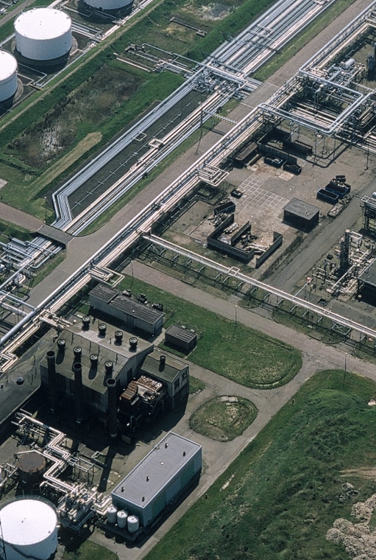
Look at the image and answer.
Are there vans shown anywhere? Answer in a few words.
No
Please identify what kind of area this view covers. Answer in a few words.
industrial area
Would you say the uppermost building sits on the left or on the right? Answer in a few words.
right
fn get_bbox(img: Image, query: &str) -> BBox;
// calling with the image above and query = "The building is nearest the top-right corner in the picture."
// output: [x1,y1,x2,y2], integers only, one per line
[234,143,260,166]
